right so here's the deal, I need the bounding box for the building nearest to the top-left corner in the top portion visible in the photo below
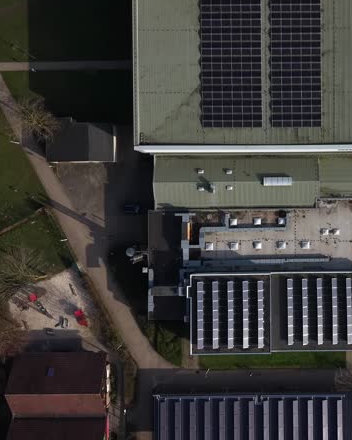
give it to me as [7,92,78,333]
[47,121,120,163]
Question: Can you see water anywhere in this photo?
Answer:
No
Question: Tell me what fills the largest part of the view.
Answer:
buildings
